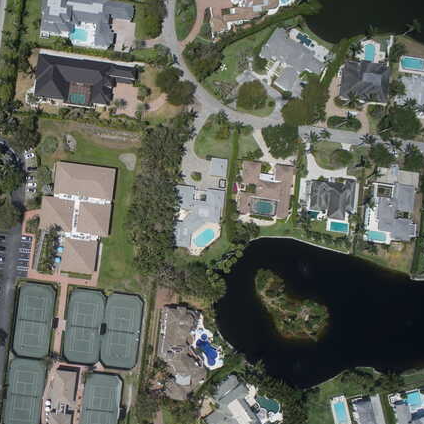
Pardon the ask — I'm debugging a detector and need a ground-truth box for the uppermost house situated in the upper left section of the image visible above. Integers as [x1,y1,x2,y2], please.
[39,0,135,50]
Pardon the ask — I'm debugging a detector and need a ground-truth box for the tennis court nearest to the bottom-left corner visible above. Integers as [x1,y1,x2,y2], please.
[2,358,47,424]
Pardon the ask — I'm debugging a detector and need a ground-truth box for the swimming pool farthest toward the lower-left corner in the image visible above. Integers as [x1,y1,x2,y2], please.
[190,314,224,371]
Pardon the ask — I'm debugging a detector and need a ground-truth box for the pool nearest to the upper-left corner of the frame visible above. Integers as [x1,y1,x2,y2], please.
[67,27,94,47]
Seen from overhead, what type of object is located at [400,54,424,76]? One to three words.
swimming pool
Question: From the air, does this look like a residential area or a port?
residential area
